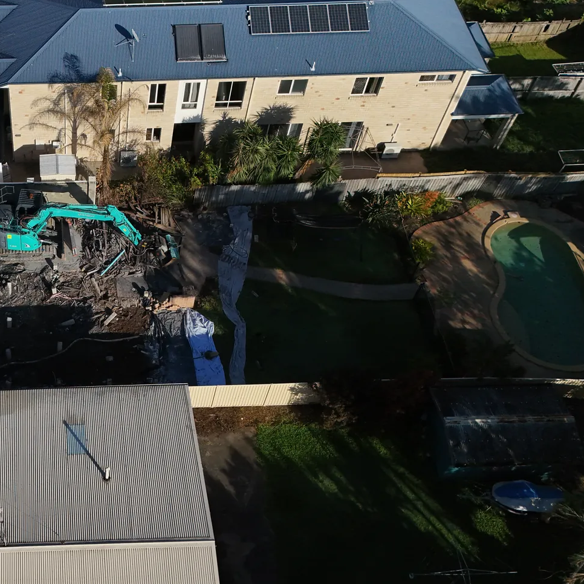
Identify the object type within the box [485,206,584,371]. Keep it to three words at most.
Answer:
swimming pool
